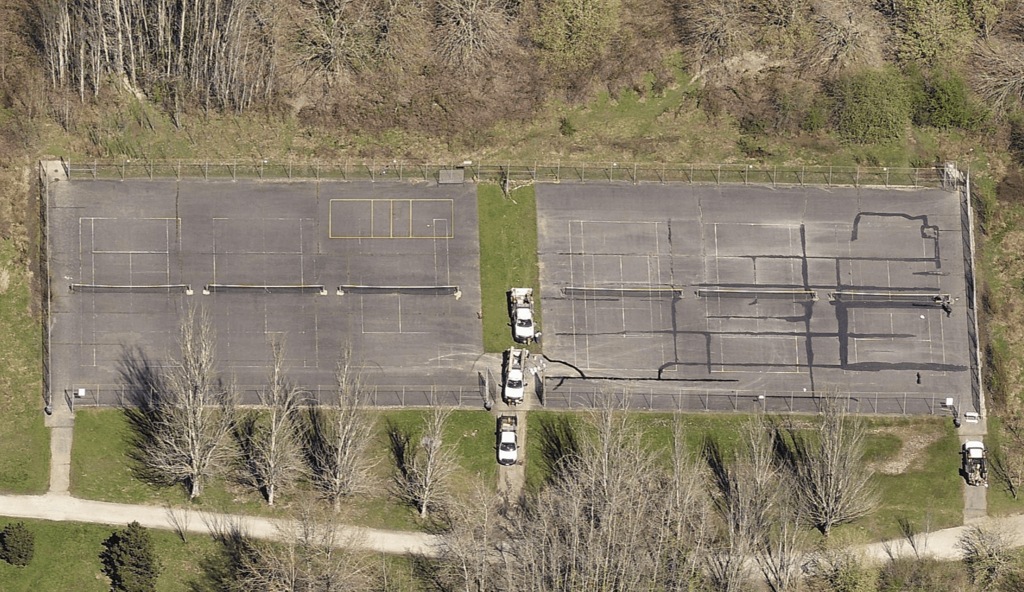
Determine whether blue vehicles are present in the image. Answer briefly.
No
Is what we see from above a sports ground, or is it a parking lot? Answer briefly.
sports ground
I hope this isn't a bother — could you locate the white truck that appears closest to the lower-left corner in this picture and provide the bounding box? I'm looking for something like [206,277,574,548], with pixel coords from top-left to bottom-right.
[496,416,521,466]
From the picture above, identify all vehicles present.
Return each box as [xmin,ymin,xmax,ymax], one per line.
[963,443,988,489]
[504,351,528,406]
[512,291,537,345]
[496,416,521,466]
